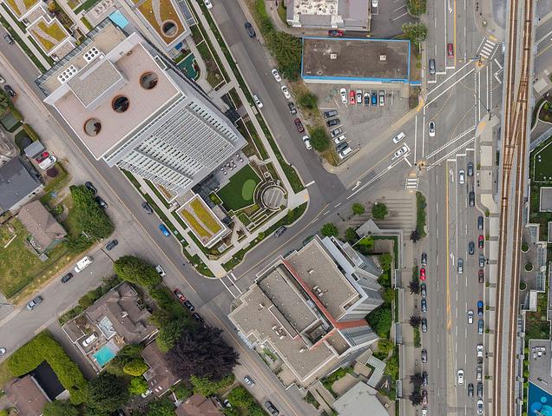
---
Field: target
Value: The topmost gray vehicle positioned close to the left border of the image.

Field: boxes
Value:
[2,31,16,47]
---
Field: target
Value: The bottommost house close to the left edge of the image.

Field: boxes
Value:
[5,363,73,416]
